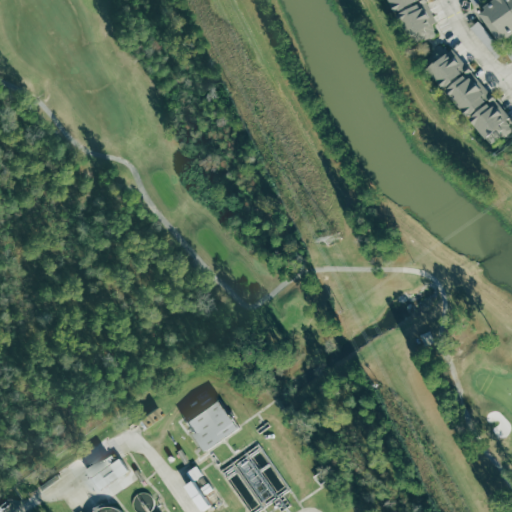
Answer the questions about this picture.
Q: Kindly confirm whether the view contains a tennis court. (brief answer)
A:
No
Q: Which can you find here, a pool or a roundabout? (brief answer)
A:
pool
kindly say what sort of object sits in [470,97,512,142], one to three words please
house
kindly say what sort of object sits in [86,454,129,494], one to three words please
building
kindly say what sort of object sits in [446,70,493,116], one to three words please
house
